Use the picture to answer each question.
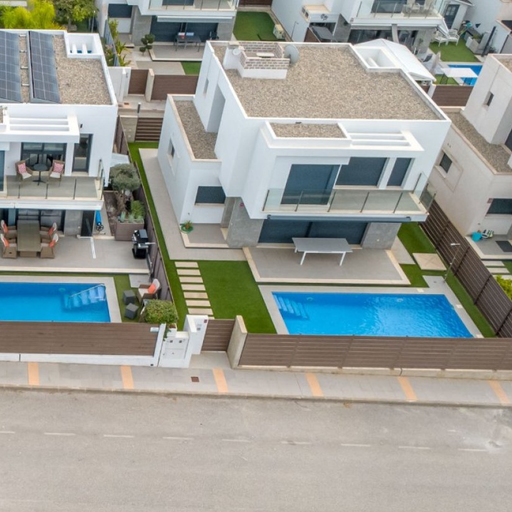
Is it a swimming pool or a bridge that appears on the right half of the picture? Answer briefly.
swimming pool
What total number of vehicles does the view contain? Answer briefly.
zero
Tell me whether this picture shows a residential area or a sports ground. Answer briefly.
residential area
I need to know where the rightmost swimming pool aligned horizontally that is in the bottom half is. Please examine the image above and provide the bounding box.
[260,285,471,343]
